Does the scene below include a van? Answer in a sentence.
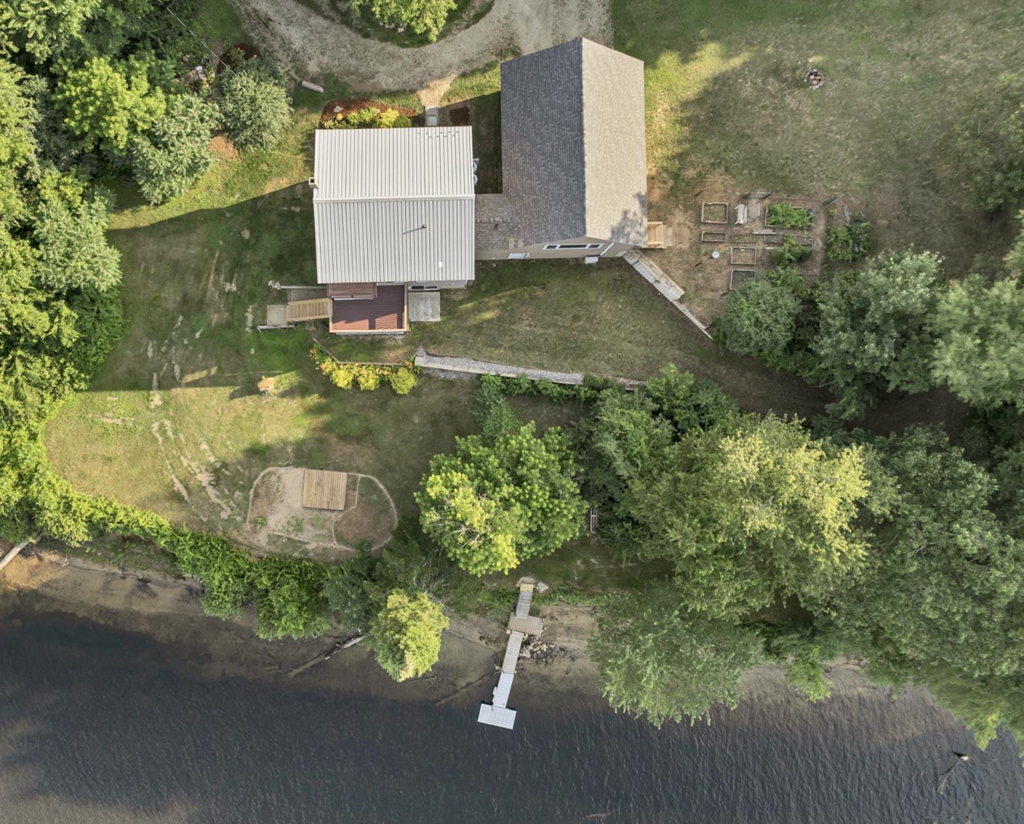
No, this view has no van in it.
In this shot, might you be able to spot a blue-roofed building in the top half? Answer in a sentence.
No, I can find no blue-roofed building in the top half.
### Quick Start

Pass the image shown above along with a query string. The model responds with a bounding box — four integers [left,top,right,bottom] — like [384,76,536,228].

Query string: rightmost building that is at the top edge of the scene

[496,38,649,259]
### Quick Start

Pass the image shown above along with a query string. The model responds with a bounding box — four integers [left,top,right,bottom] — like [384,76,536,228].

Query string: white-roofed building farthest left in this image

[308,127,476,289]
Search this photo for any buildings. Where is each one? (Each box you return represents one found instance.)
[308,127,476,289]
[496,38,649,259]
